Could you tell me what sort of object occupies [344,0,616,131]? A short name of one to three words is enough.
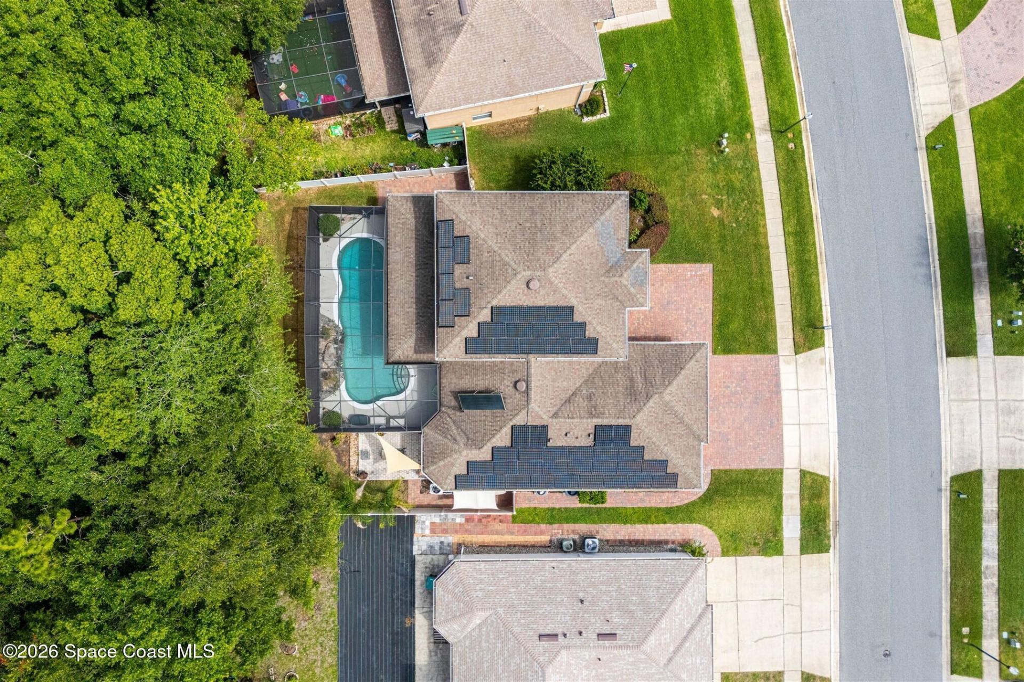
house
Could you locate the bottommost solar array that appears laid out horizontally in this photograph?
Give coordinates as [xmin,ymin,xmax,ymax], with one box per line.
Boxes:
[455,426,681,490]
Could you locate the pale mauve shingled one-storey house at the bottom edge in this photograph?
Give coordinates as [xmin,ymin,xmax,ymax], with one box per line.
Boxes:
[432,554,715,682]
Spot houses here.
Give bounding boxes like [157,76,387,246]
[385,190,710,493]
[432,554,715,682]
[344,0,616,131]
